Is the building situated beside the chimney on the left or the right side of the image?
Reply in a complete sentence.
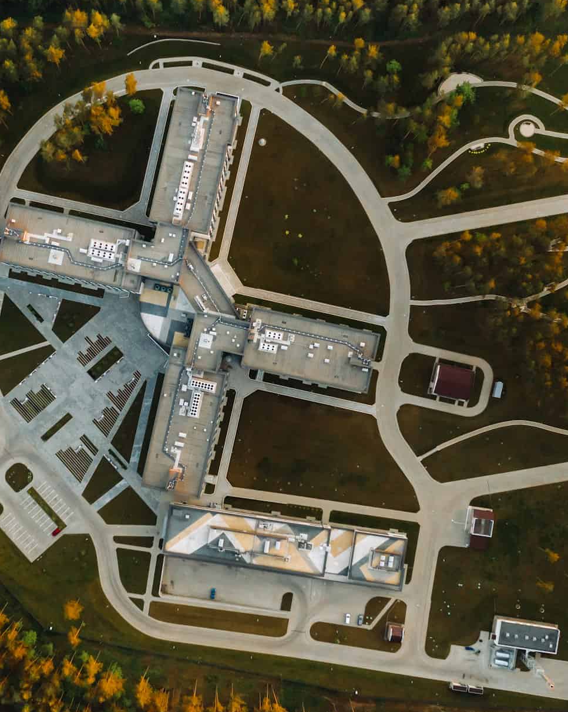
It is on the right.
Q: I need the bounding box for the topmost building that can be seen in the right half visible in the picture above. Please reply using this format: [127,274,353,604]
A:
[428,362,475,402]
